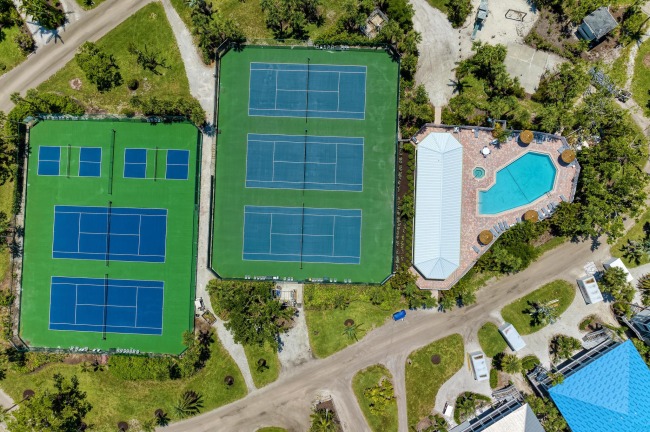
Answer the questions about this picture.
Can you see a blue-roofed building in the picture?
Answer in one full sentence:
Yes, looking at the shot, I can spot a blue-roofed building.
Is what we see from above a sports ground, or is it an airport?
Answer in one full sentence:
It's a sports ground.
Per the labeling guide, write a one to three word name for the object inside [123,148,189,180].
sports court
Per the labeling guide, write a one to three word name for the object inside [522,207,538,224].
umbrella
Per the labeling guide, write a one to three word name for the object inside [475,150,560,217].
swimming pool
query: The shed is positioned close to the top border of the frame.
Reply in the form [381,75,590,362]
[573,4,620,46]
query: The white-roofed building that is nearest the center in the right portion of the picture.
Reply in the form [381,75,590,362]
[412,132,463,280]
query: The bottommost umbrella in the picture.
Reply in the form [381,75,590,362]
[477,229,493,245]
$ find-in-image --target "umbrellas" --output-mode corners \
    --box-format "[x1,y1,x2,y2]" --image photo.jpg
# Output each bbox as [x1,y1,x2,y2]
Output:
[559,148,575,164]
[477,229,493,245]
[522,207,538,224]
[517,129,534,145]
